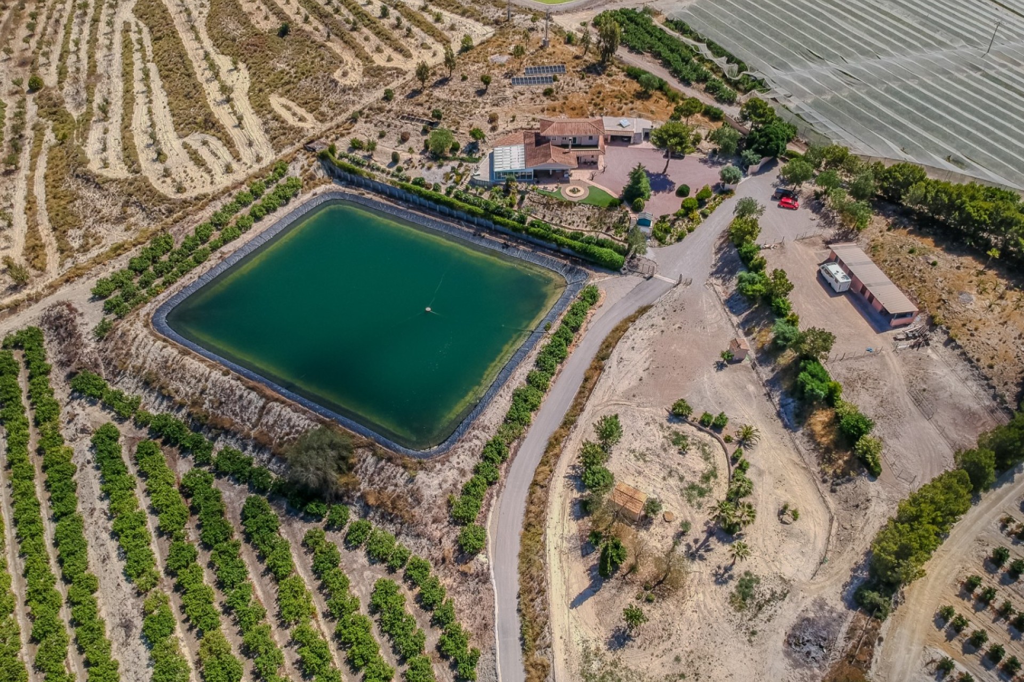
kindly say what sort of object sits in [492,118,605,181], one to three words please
house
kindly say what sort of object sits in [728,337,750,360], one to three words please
shed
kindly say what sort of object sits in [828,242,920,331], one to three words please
shed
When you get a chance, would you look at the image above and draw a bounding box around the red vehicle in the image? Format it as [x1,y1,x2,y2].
[778,197,800,209]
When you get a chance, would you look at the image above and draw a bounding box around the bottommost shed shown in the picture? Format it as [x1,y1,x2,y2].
[610,481,648,520]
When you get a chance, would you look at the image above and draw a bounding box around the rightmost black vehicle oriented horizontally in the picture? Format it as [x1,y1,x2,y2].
[773,188,800,201]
